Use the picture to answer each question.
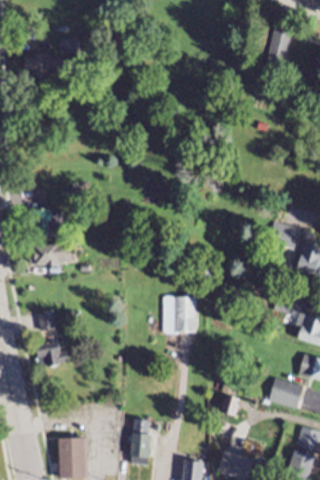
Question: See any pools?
No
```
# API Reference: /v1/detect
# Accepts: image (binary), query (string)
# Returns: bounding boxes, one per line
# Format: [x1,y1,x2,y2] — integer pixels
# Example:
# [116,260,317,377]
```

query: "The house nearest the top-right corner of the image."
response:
[268,28,290,60]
